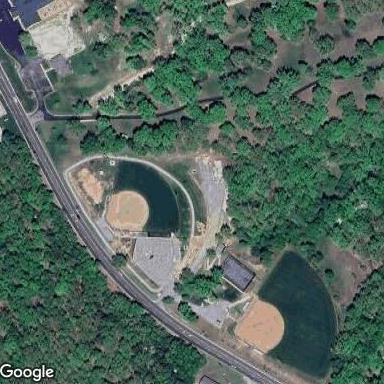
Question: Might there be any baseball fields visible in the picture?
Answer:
Yes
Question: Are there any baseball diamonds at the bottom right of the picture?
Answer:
Yes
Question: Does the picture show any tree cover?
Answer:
Yes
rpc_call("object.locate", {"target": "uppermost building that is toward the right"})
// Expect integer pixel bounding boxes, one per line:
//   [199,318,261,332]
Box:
[220,257,256,291]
